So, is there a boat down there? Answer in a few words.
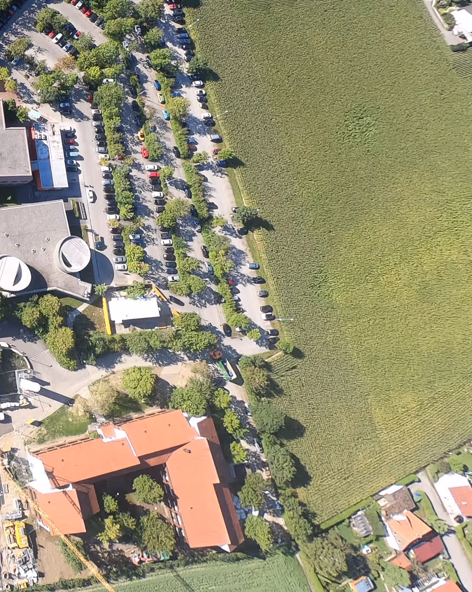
No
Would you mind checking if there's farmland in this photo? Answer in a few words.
Yes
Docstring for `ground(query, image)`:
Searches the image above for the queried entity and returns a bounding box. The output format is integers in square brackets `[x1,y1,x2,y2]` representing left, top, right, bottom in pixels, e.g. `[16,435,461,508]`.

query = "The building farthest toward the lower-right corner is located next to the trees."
[414,558,461,592]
